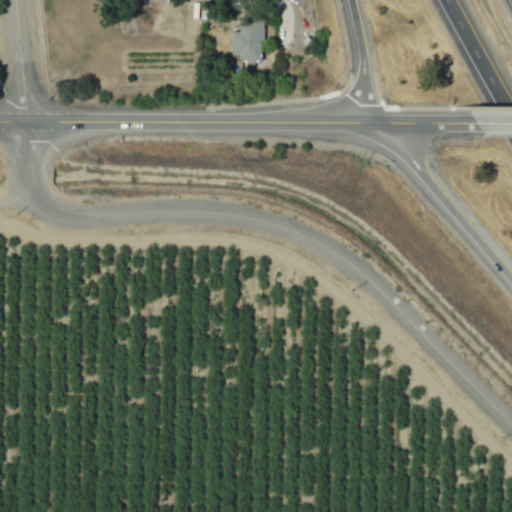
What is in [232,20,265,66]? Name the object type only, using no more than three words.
house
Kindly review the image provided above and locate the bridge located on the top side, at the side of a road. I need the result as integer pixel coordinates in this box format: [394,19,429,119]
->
[464,105,512,136]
